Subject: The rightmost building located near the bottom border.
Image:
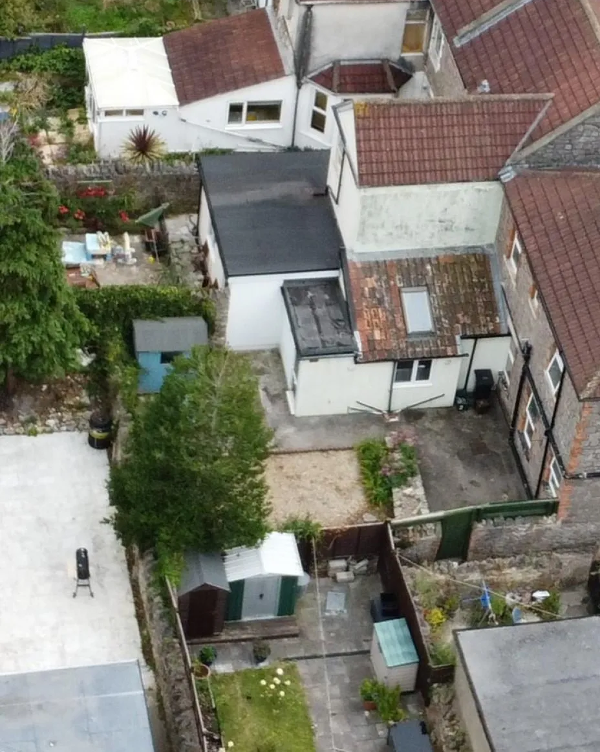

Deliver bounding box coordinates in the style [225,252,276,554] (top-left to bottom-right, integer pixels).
[452,614,600,752]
